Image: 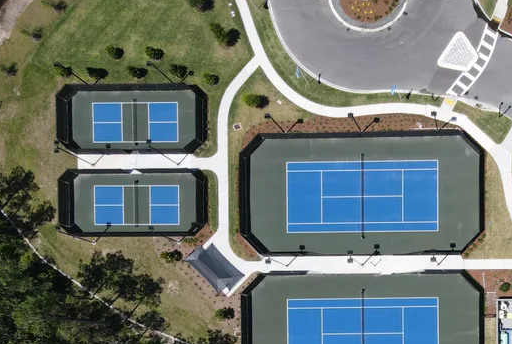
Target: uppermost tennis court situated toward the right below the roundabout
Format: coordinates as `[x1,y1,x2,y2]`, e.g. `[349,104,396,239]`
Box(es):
[245,139,479,256]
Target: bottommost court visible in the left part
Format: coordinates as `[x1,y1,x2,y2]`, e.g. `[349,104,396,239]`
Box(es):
[68,174,194,234]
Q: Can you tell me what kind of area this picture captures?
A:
sports ground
